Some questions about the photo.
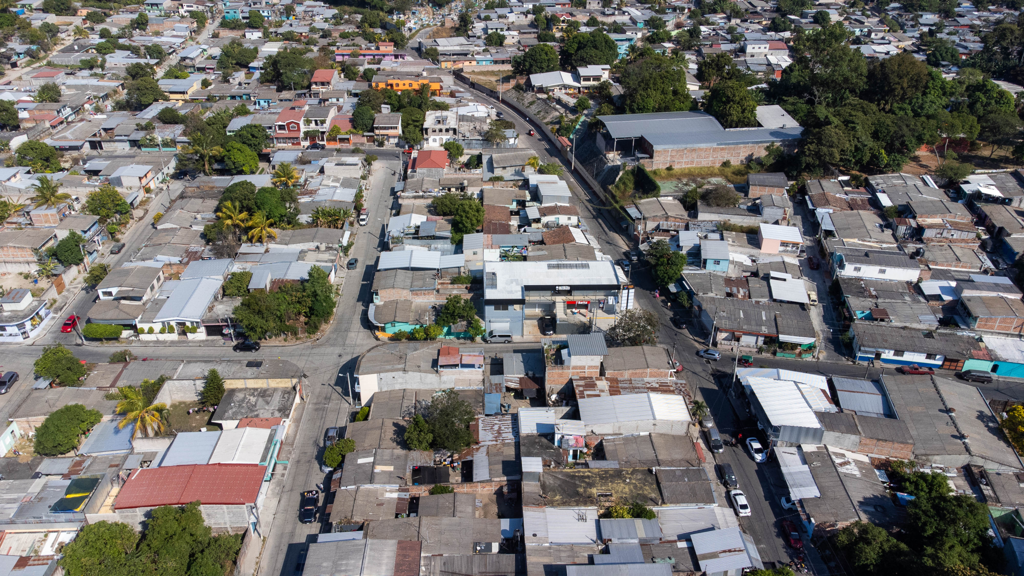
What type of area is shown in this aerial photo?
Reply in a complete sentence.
This image shows a residential area.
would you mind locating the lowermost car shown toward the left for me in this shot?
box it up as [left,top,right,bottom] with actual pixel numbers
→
[294,533,315,569]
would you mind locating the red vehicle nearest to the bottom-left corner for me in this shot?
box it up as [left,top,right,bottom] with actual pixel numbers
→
[61,314,78,331]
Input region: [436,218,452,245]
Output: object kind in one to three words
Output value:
house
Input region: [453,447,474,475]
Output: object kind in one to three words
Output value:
shed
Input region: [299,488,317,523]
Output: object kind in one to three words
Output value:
vehicle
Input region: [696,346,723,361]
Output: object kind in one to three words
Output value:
car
